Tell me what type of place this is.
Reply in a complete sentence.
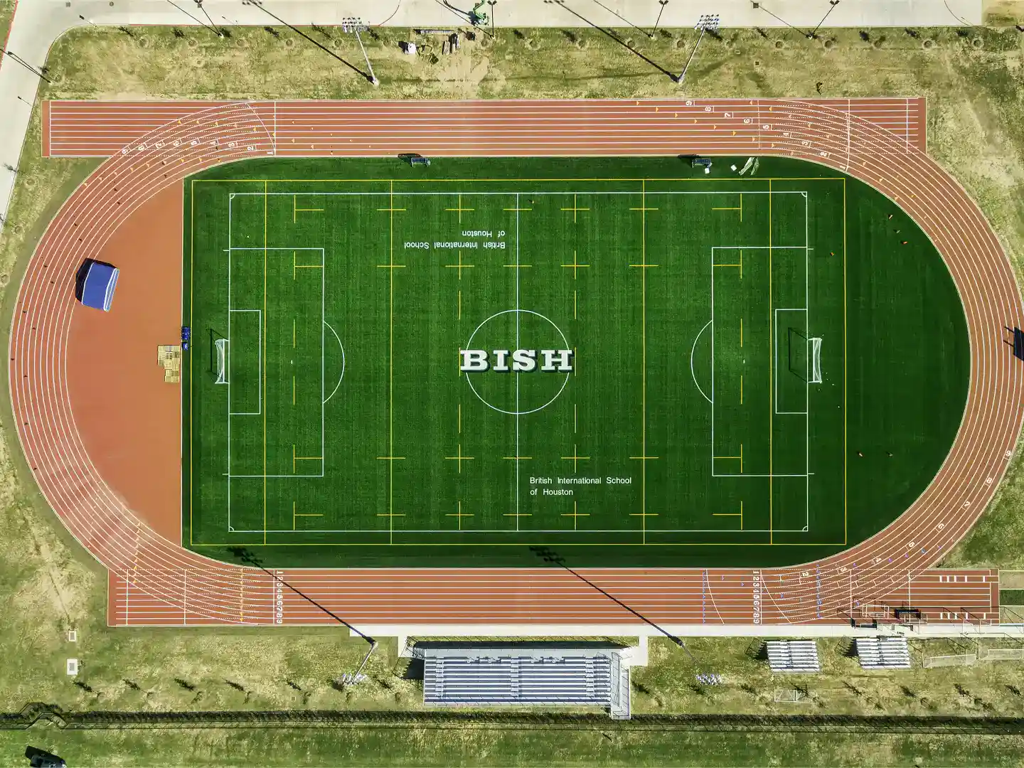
What you see here is a sports ground.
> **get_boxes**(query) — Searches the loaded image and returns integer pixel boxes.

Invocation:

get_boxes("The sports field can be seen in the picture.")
[183,158,968,566]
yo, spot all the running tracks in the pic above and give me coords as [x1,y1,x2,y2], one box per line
[8,97,1024,627]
